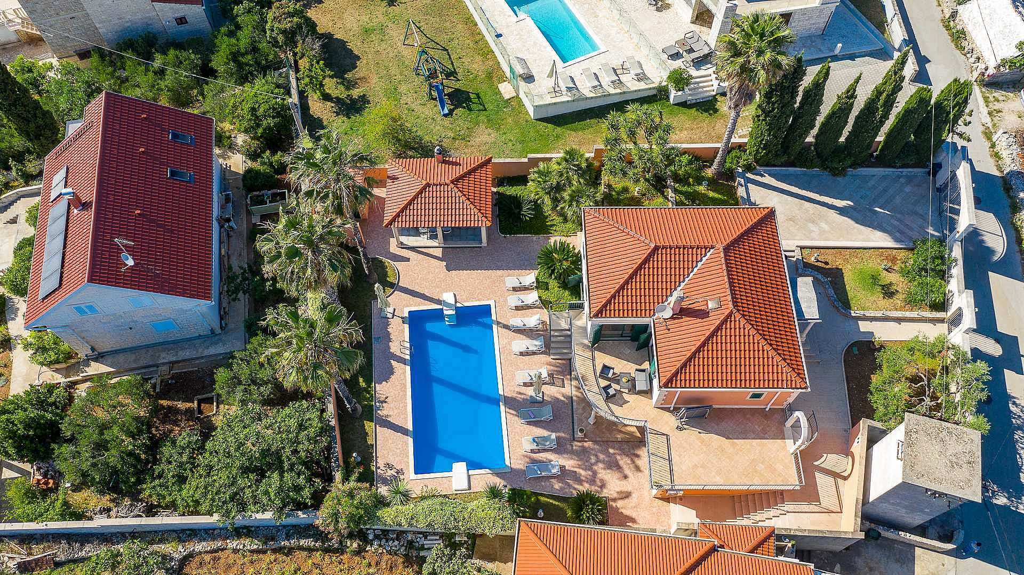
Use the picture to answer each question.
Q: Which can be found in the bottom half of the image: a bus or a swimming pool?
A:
swimming pool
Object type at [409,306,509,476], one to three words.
swimming pool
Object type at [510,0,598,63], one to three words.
swimming pool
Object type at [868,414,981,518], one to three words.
building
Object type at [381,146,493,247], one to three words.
gazebo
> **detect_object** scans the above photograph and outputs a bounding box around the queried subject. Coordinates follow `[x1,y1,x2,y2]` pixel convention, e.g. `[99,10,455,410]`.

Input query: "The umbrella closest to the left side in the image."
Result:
[376,285,394,318]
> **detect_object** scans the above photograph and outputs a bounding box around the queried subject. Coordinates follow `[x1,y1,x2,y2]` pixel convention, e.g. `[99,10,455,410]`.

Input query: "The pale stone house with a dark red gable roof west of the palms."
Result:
[20,89,237,358]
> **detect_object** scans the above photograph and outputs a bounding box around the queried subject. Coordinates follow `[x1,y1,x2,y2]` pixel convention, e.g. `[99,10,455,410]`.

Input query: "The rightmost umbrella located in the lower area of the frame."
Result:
[529,372,543,404]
